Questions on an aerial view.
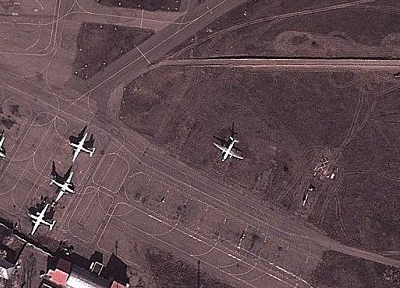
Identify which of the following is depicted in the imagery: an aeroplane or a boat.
aeroplane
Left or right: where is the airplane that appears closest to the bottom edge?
left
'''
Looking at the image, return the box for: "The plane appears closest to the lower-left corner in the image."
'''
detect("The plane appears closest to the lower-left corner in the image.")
[29,204,56,235]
